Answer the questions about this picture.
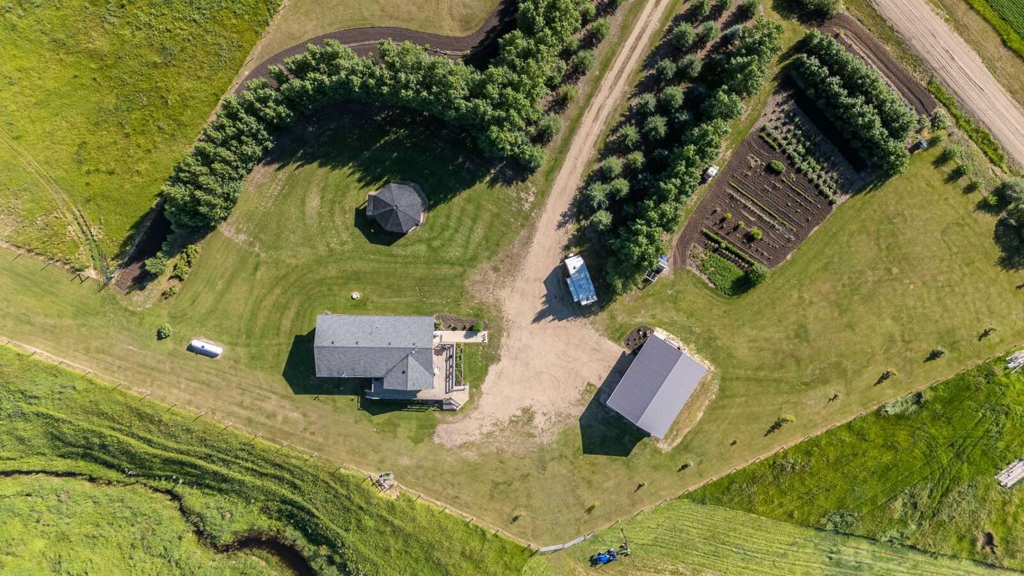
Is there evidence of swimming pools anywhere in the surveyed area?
No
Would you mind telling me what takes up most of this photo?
grass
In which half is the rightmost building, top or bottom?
bottom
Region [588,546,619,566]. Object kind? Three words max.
work vehicle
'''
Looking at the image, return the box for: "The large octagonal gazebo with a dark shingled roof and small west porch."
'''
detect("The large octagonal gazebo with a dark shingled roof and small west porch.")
[362,183,421,235]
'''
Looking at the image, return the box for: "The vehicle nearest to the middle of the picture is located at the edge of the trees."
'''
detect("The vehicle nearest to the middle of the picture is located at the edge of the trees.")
[564,252,597,305]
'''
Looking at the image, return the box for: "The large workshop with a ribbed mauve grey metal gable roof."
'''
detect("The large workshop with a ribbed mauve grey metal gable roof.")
[606,333,707,439]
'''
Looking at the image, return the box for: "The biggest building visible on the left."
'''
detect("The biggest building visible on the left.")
[312,313,435,393]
